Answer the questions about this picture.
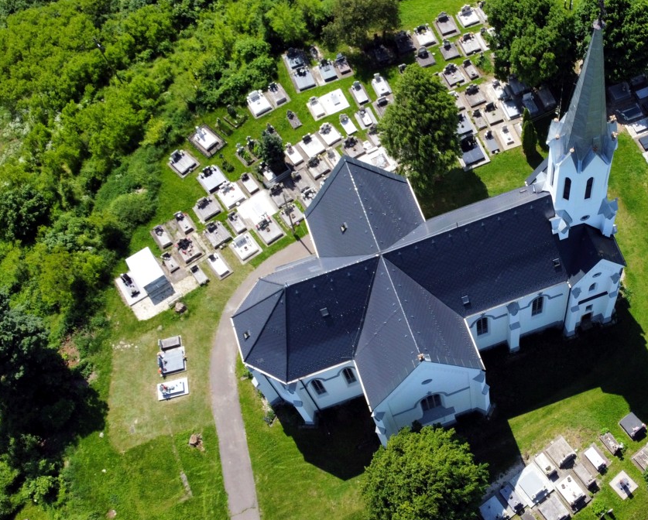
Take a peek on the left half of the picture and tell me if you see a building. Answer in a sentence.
Yes, I can see a building on the left half of the picture.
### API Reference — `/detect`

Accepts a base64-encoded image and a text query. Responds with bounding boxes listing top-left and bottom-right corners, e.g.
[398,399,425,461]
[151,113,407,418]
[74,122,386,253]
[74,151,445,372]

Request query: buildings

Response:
[231,0,630,456]
[125,247,172,297]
